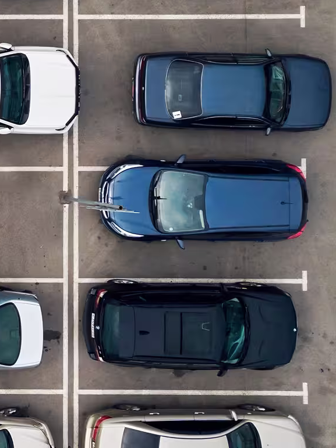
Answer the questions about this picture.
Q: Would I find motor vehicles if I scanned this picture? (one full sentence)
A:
Yes, a motor vehicle is visible in the scene.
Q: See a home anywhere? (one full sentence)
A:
No, there is no home in the image.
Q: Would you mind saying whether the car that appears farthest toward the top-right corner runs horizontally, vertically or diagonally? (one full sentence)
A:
In this picture, the car that appears farthest toward the top-right corner is oriented horizontally.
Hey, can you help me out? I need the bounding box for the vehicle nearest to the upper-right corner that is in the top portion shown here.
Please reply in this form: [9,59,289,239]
[131,43,332,138]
